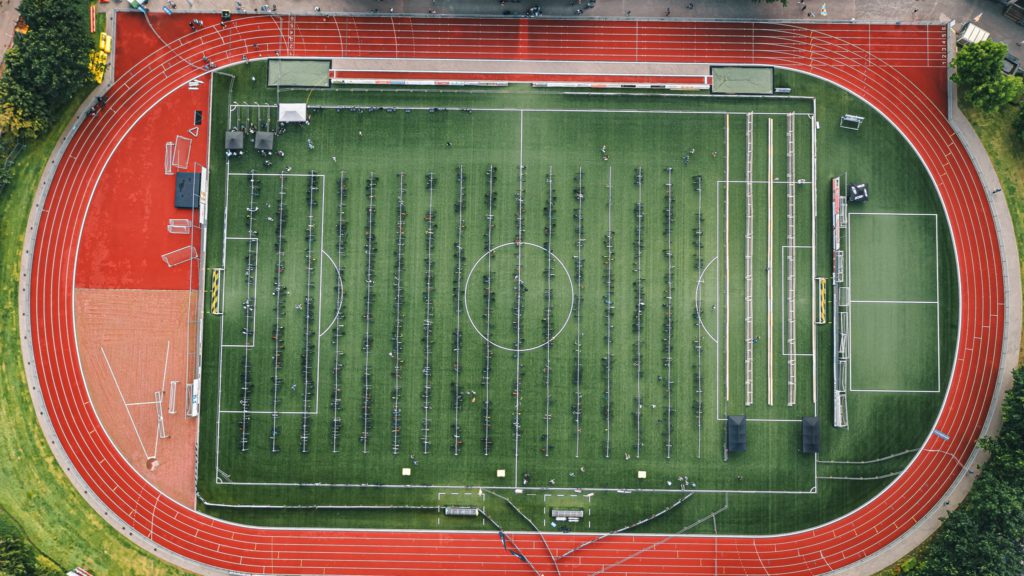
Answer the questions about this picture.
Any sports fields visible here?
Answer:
Yes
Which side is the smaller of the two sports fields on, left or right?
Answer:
right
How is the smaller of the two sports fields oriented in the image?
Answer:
from top to bottom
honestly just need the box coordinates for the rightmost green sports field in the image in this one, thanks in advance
[849,213,940,392]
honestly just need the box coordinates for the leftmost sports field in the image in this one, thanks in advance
[213,102,819,528]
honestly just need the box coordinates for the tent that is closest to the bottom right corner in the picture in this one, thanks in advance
[796,413,820,453]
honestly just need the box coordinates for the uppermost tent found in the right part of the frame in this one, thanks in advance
[840,183,868,207]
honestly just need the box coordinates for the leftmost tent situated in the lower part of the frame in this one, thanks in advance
[723,412,746,451]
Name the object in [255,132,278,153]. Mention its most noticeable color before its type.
gray tent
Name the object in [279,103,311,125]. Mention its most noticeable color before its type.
white tent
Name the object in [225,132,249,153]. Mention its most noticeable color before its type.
gray tent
